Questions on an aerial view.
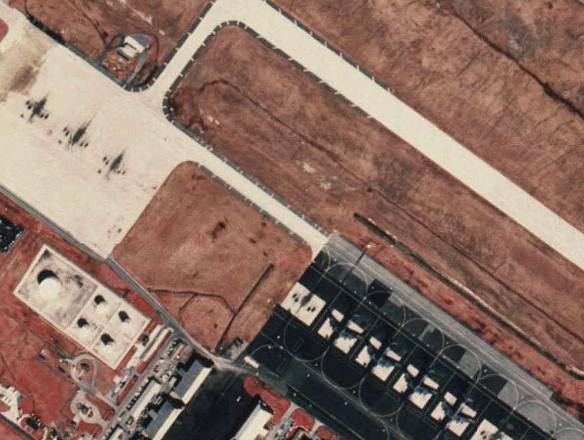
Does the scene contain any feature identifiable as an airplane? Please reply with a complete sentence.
Yes, there's an airplane here.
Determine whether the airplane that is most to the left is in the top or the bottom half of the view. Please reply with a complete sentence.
The airplane that is most to the left is in the bottom half of the image.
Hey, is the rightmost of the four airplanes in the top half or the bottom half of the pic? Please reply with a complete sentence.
The rightmost of the four airplanes is in the bottom half of the image.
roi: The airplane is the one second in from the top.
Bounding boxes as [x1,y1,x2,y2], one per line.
[362,336,399,374]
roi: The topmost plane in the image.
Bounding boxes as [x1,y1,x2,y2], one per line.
[325,308,361,347]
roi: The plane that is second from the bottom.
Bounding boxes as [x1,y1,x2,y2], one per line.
[400,363,436,402]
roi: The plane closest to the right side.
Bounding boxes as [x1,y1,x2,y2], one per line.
[437,391,473,429]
